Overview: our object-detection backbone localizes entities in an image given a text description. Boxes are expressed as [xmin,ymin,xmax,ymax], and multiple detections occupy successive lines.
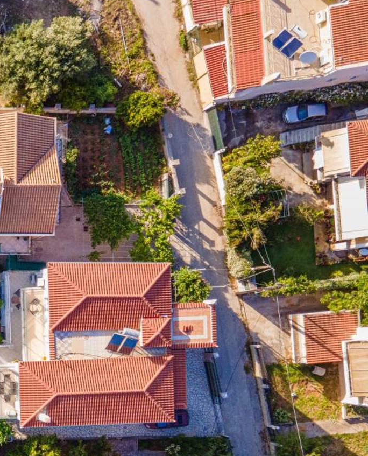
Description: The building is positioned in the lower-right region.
[285,309,368,406]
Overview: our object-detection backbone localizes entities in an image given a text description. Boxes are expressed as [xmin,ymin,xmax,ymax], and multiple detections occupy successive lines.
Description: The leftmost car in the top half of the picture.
[280,102,327,126]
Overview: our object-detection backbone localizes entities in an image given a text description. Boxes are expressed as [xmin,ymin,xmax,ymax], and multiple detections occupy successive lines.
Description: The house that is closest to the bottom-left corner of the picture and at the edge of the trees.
[0,261,219,429]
